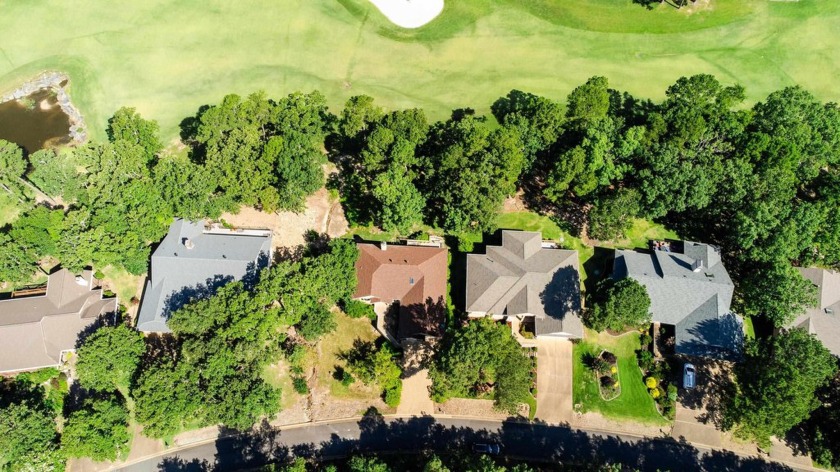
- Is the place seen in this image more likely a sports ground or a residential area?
residential area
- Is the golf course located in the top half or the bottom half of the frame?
top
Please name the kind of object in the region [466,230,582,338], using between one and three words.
house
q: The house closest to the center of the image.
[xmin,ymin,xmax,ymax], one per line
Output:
[353,234,447,337]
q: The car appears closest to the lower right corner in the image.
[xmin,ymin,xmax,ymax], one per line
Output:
[682,362,696,391]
